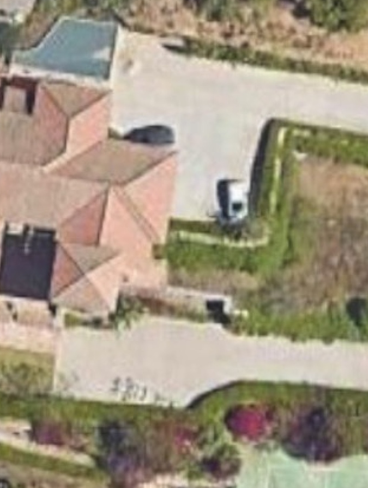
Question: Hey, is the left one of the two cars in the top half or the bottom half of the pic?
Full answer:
The left one of the two cars is in the top half of the image.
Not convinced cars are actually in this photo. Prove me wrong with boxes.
[129,125,177,146]
[229,179,248,224]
